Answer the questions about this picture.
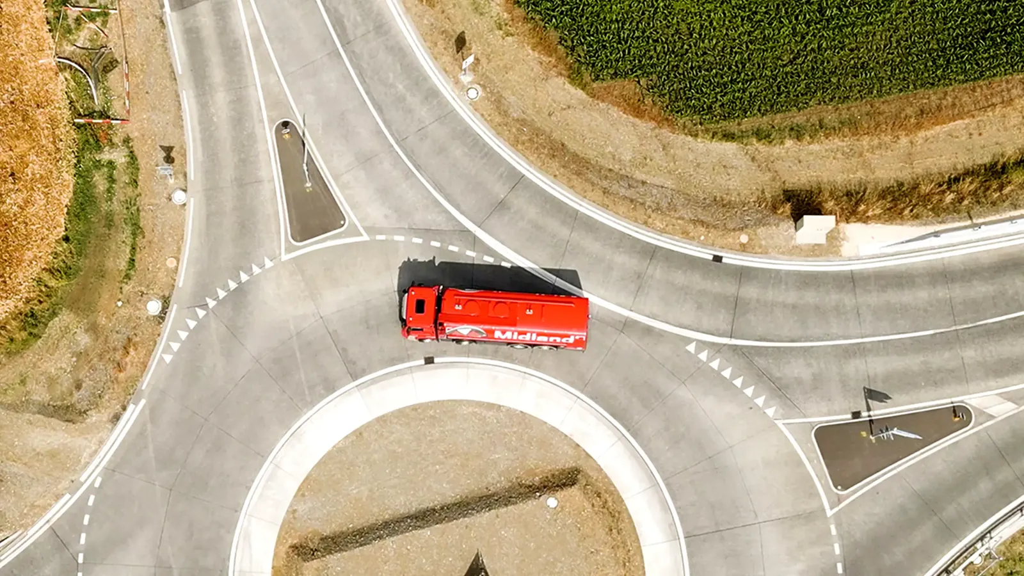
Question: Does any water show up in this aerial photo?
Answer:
No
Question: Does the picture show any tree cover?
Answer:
No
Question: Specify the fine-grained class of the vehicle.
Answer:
truck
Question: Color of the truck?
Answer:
red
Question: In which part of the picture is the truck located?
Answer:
center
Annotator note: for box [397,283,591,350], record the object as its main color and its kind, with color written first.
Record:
red truck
